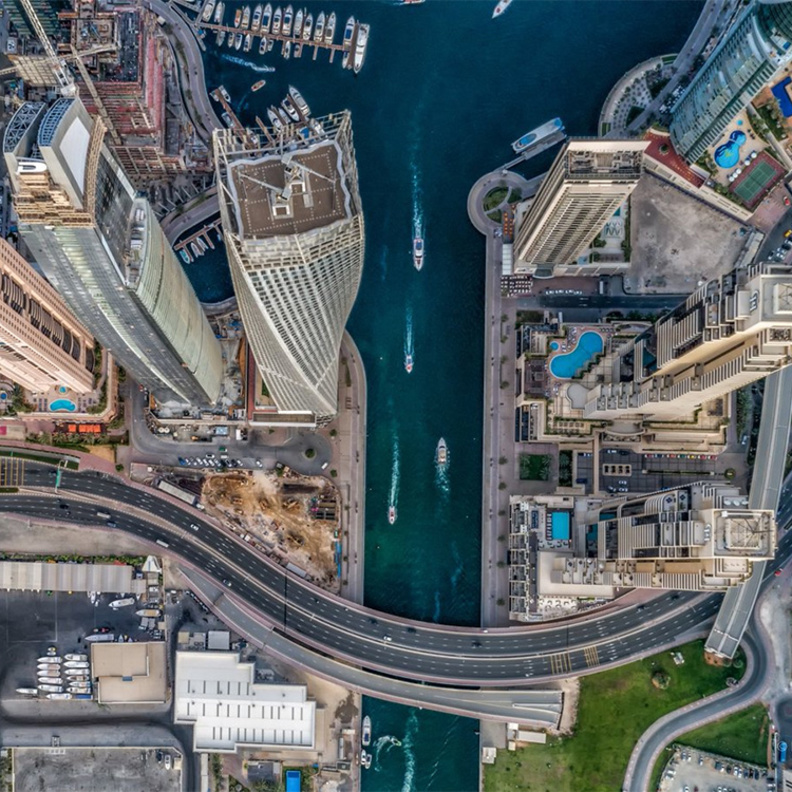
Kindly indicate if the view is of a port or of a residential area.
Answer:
port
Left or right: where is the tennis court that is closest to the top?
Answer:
right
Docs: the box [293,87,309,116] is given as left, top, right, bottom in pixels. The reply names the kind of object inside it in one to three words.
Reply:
boat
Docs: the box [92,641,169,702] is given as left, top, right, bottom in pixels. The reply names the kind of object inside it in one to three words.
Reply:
building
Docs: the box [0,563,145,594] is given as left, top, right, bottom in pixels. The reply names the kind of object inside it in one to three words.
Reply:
shed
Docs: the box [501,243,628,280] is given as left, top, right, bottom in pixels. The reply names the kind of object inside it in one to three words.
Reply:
building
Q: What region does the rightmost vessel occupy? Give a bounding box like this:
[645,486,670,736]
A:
[507,118,565,151]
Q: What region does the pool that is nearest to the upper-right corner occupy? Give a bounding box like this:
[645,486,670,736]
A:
[770,73,792,118]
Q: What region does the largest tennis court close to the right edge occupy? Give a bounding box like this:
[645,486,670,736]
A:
[729,150,787,212]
